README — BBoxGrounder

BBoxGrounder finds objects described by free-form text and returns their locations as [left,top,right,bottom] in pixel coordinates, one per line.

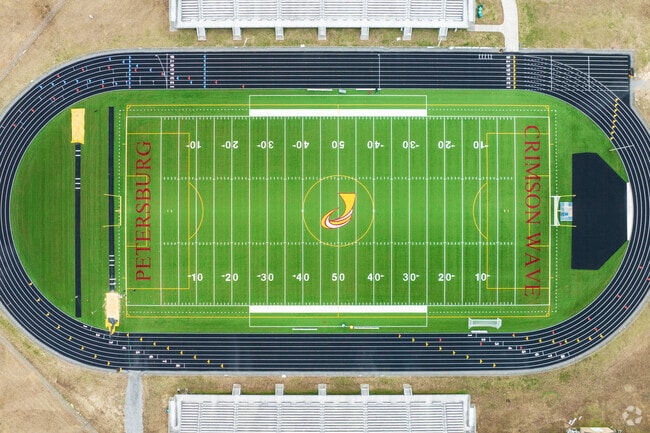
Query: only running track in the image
[0,52,650,370]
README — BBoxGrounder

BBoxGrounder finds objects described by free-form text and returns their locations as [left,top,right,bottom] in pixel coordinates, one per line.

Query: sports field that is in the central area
[119,95,557,326]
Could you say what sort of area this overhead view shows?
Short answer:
sports ground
